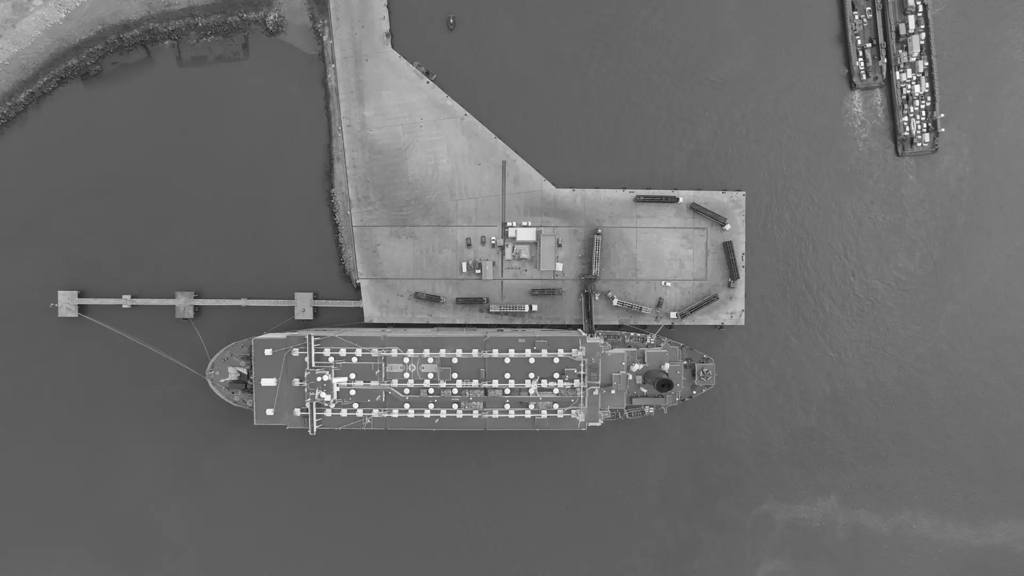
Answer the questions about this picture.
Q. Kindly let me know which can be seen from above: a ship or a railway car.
ship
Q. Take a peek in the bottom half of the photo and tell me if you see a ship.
Yes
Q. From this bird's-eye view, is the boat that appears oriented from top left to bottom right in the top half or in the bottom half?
top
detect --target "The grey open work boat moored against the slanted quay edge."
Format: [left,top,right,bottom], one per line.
[413,62,438,83]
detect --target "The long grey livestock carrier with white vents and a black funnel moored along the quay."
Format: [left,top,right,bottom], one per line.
[206,327,718,435]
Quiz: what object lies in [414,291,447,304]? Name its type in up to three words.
vehicle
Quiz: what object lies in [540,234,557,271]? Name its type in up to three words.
building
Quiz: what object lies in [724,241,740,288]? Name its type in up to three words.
vehicle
